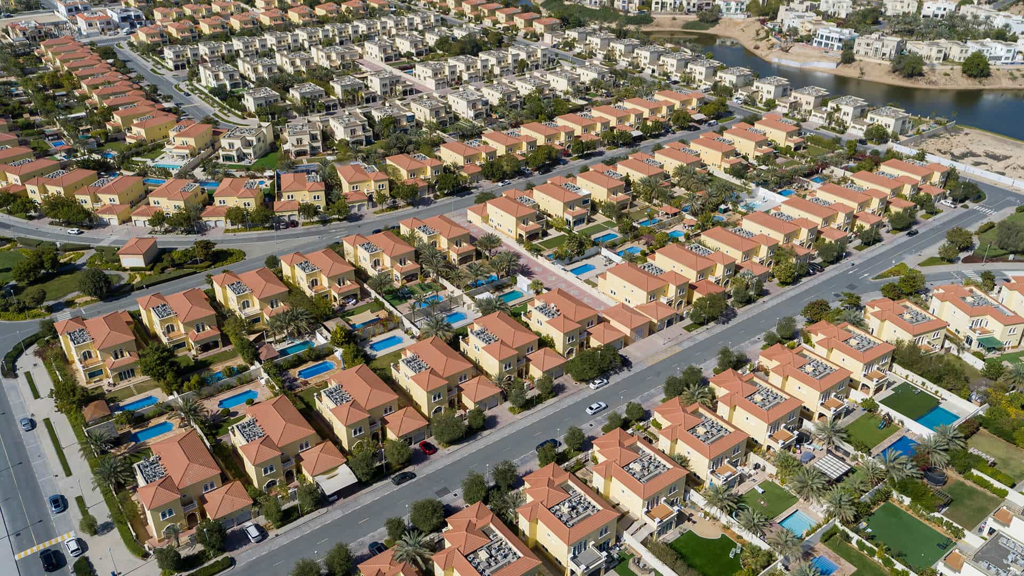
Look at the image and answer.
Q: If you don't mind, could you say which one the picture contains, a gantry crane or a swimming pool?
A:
swimming pool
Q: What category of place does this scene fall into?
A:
residential area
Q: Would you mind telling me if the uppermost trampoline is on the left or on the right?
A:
right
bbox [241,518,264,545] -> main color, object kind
white car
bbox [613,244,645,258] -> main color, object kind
blue swimming pool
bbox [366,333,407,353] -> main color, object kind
blue swimming pool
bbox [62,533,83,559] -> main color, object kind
white car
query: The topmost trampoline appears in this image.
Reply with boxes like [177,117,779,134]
[792,425,816,447]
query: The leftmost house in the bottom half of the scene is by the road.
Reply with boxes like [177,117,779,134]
[54,314,136,385]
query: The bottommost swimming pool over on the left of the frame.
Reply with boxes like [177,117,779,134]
[126,419,178,445]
